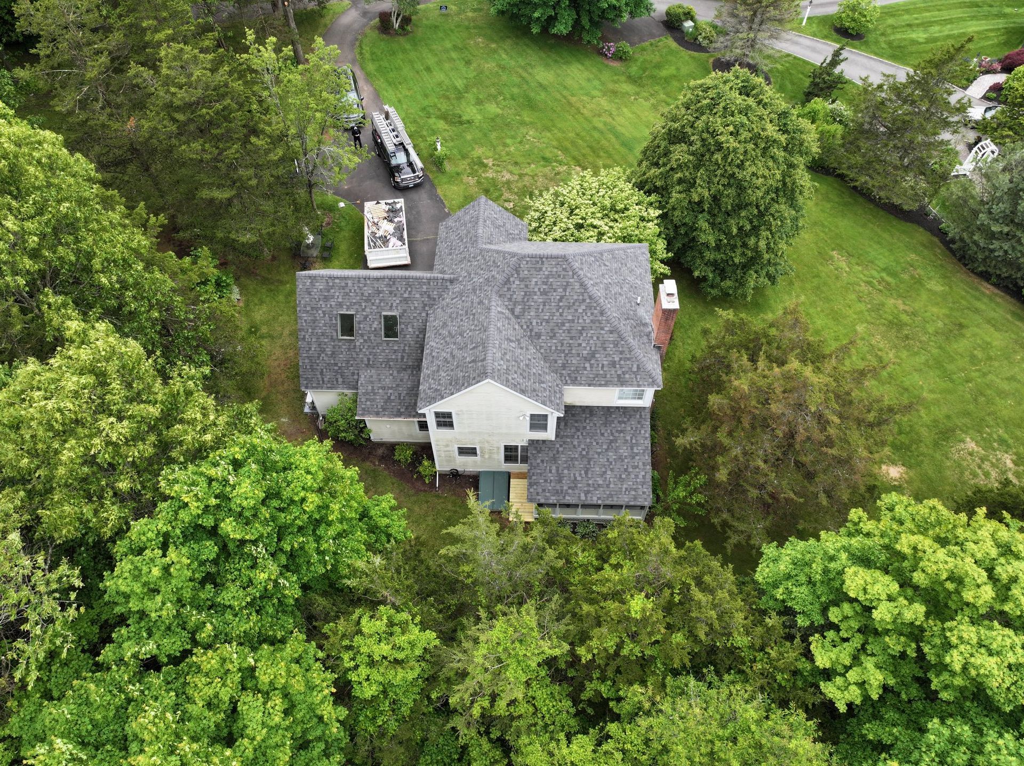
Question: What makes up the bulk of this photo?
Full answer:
For the most part, this view shows trees.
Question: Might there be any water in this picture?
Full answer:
No, there is no water in the image.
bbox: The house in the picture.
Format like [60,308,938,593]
[295,189,680,528]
